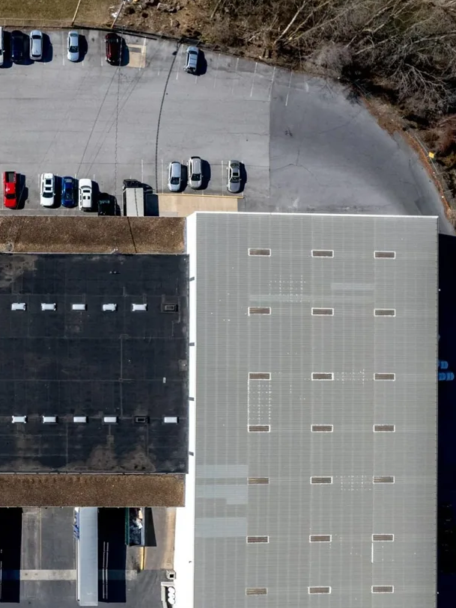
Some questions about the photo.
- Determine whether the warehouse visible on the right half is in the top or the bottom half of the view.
bottom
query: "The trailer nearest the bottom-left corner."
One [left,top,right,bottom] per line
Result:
[74,506,98,606]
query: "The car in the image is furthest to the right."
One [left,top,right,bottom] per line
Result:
[227,159,243,193]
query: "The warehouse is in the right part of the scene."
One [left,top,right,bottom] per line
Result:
[174,212,437,608]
